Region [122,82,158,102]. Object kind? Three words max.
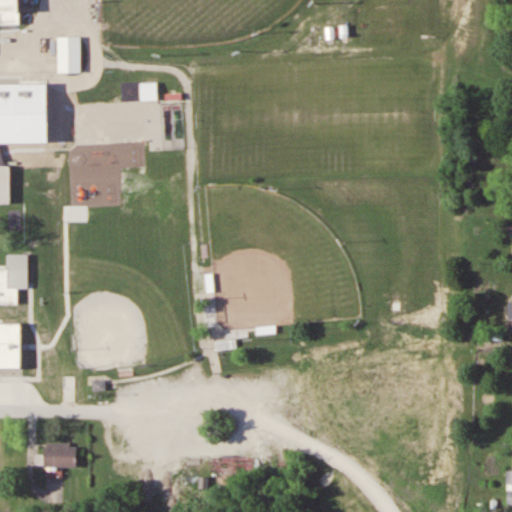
shed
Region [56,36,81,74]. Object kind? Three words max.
barn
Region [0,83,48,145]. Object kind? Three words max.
building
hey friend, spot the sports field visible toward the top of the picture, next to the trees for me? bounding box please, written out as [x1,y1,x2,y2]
[197,55,442,180]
